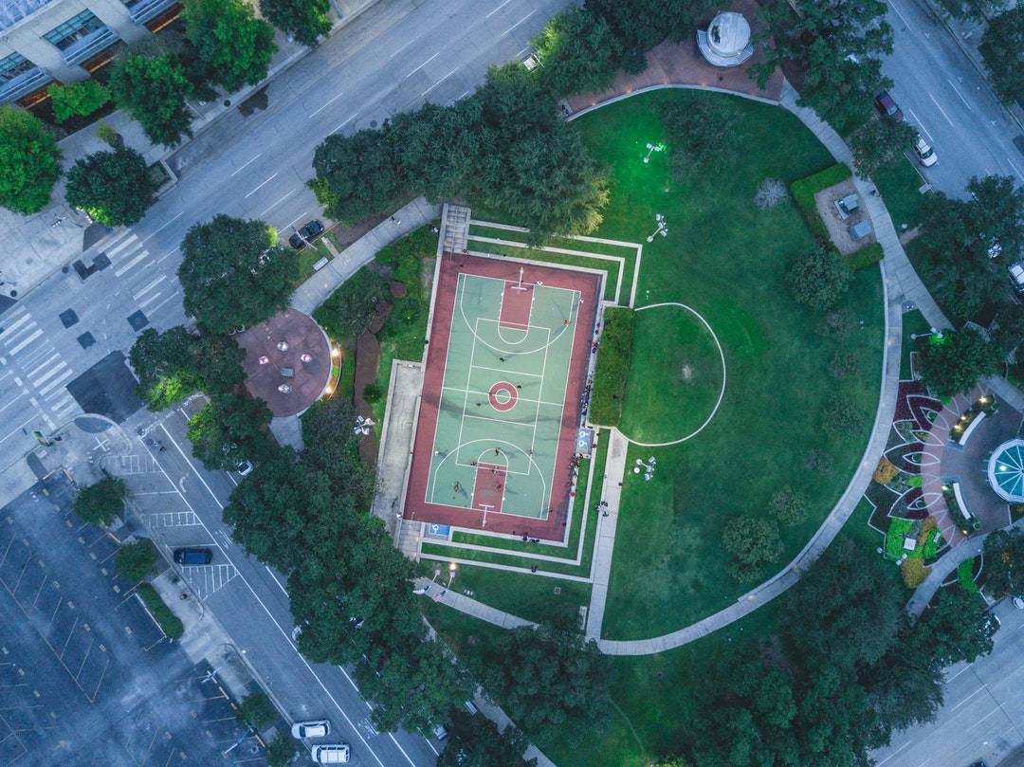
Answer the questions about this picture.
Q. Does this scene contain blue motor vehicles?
Yes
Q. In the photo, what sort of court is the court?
basketball court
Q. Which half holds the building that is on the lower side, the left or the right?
right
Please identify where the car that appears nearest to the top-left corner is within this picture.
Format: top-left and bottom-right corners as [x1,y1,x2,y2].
[287,219,327,251]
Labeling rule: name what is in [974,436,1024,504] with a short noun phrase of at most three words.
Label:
building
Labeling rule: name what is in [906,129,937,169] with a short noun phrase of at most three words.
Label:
car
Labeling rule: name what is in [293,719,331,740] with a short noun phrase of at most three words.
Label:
car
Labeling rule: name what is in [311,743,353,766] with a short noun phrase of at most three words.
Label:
vehicle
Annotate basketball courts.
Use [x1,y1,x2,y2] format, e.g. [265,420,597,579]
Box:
[404,252,599,541]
